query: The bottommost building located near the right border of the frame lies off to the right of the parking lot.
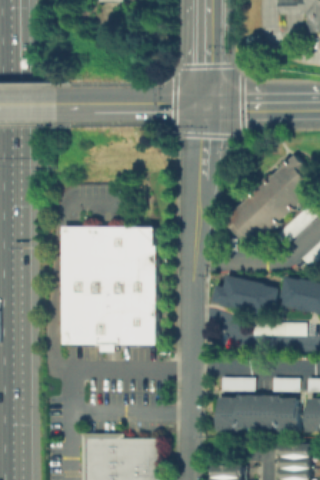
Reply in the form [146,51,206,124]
[278,444,309,480]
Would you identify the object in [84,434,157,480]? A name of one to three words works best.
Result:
building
